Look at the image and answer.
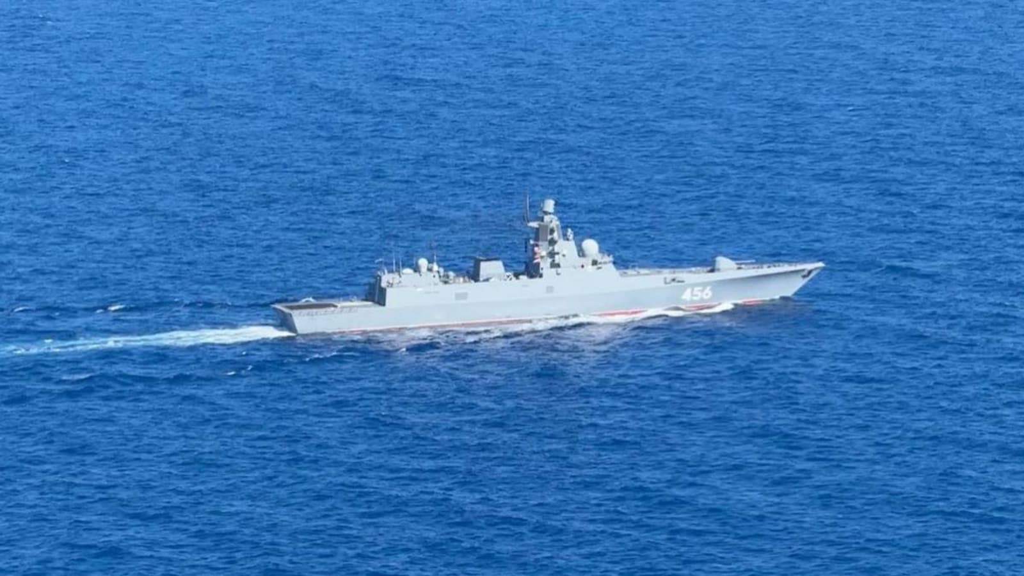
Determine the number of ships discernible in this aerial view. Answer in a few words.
1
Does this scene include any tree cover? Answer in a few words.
No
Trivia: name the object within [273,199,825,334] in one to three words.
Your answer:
ship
